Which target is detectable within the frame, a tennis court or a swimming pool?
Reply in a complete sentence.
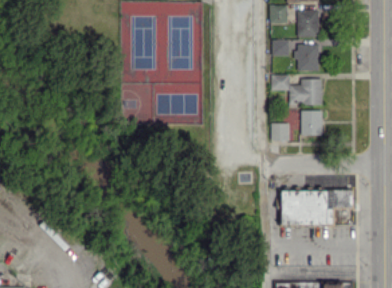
The image shows a tennis court.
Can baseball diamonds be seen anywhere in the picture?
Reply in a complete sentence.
No, no baseball diamond is visible in the scene.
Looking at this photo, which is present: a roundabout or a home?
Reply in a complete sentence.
Looking from above, you can make out a home.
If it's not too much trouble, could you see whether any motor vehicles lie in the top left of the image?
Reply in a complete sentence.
No, I see no motor vehicle in the top left of the image.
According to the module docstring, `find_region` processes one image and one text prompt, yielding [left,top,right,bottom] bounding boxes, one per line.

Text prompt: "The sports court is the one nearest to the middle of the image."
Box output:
[152,82,202,124]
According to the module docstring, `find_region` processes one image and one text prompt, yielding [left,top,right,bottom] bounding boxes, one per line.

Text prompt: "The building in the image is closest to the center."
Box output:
[272,122,290,142]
